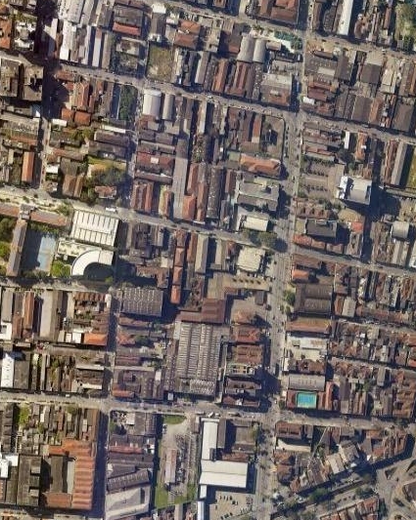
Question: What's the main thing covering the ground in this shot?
buildings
